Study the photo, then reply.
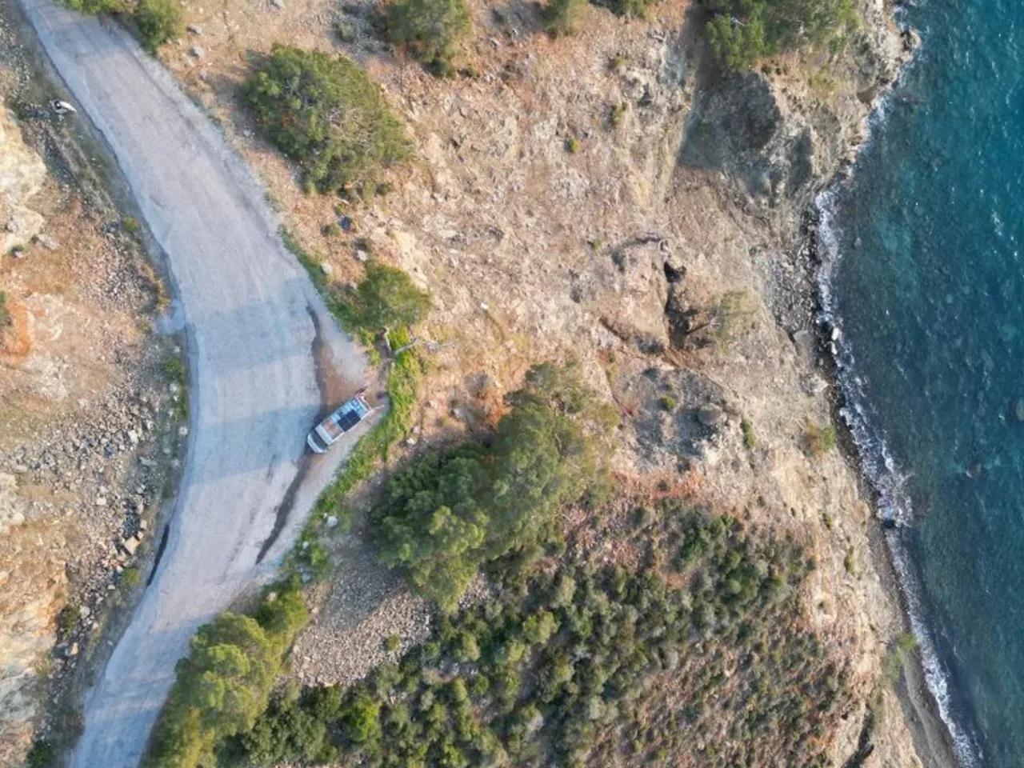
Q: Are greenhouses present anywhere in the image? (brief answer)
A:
No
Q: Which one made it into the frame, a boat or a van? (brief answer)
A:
van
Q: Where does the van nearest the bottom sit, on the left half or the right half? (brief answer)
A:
left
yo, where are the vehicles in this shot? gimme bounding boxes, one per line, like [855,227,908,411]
[312,387,386,452]
[48,95,72,113]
